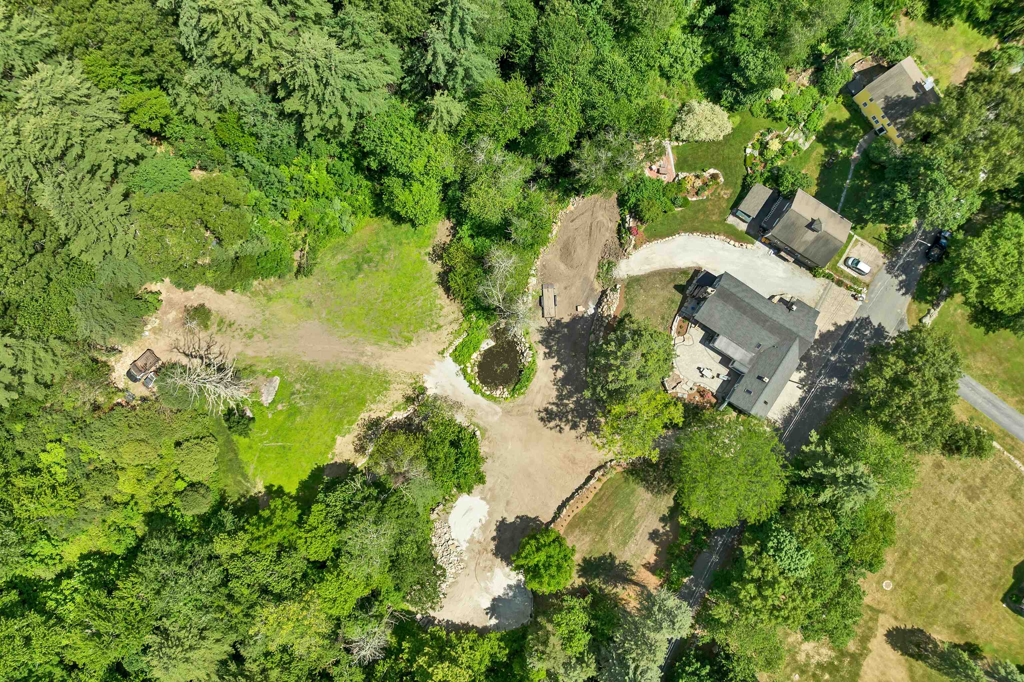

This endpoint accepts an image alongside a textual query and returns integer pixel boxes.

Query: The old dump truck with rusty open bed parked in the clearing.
[124,348,158,387]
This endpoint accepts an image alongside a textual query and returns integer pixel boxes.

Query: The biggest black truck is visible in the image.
[923,227,951,266]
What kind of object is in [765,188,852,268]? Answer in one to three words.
barn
